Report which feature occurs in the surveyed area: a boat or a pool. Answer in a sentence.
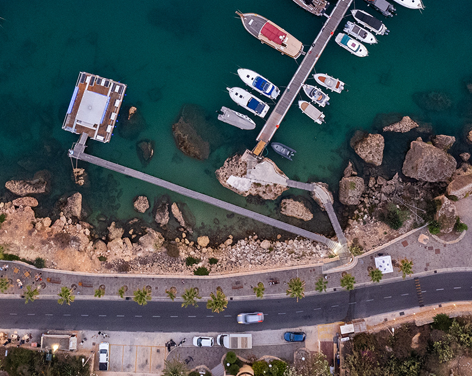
Of the two, only a boat appears.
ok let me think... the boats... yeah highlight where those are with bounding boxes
[362,0,396,18]
[233,66,282,102]
[235,11,308,61]
[299,102,325,124]
[352,10,391,38]
[333,32,370,56]
[302,85,331,107]
[338,17,380,44]
[296,0,329,16]
[227,87,269,119]
[313,75,347,93]
[391,0,430,14]
[270,143,297,159]
[218,108,255,128]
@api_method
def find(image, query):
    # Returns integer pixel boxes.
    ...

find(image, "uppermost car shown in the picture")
[236,312,263,324]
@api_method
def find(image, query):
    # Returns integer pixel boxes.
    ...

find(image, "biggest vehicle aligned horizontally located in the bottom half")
[217,334,252,350]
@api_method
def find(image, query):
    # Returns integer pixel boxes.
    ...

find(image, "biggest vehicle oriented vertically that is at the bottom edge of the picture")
[97,342,110,370]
